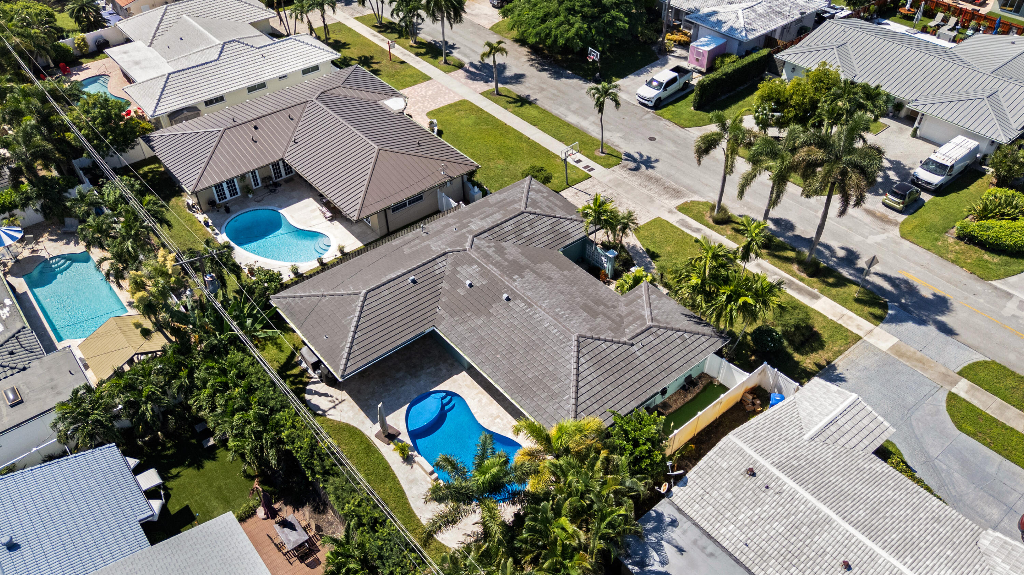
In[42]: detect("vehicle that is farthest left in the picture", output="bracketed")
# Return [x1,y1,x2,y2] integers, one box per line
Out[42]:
[634,64,696,106]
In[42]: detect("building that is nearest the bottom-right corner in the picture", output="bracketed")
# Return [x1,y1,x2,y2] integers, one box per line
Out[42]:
[611,375,1024,575]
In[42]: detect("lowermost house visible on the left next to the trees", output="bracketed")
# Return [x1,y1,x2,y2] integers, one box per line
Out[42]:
[0,443,274,575]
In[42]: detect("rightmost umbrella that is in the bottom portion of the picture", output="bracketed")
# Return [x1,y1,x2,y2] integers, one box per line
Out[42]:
[371,402,399,450]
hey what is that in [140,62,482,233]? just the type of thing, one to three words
house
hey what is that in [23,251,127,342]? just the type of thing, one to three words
swimming pool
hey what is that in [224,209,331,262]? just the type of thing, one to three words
swimming pool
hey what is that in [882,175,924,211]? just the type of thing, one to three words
car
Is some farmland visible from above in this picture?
No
